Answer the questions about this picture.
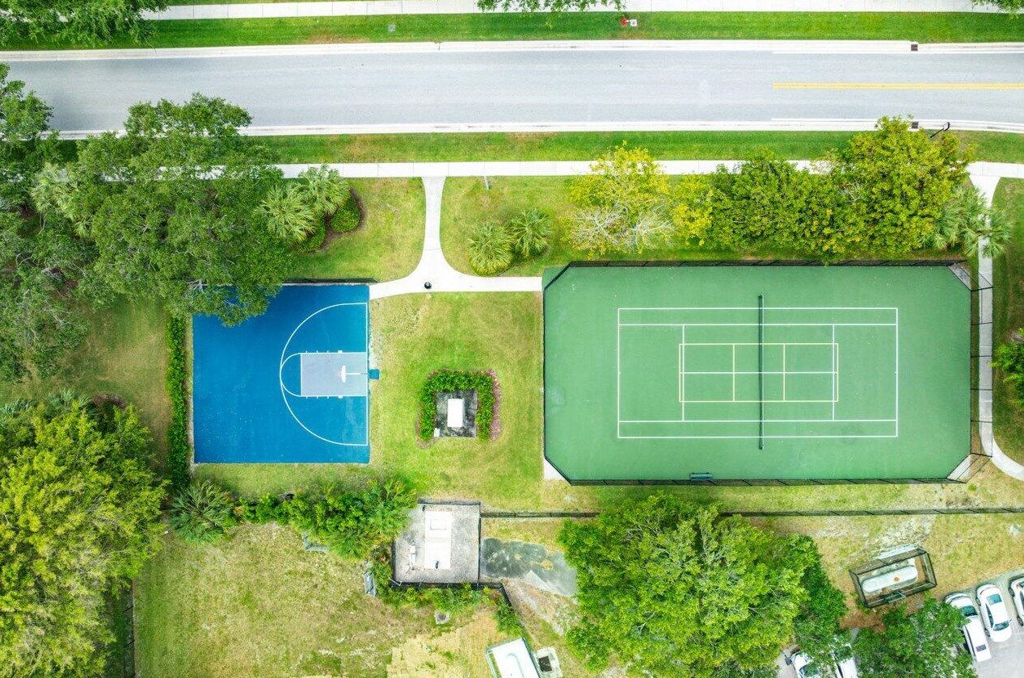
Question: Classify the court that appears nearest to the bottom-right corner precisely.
tennis court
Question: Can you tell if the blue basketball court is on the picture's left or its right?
left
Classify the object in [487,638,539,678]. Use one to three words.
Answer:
shed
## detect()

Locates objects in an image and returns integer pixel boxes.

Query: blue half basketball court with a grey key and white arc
[193,285,369,463]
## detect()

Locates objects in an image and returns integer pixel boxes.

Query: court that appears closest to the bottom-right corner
[543,265,971,481]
